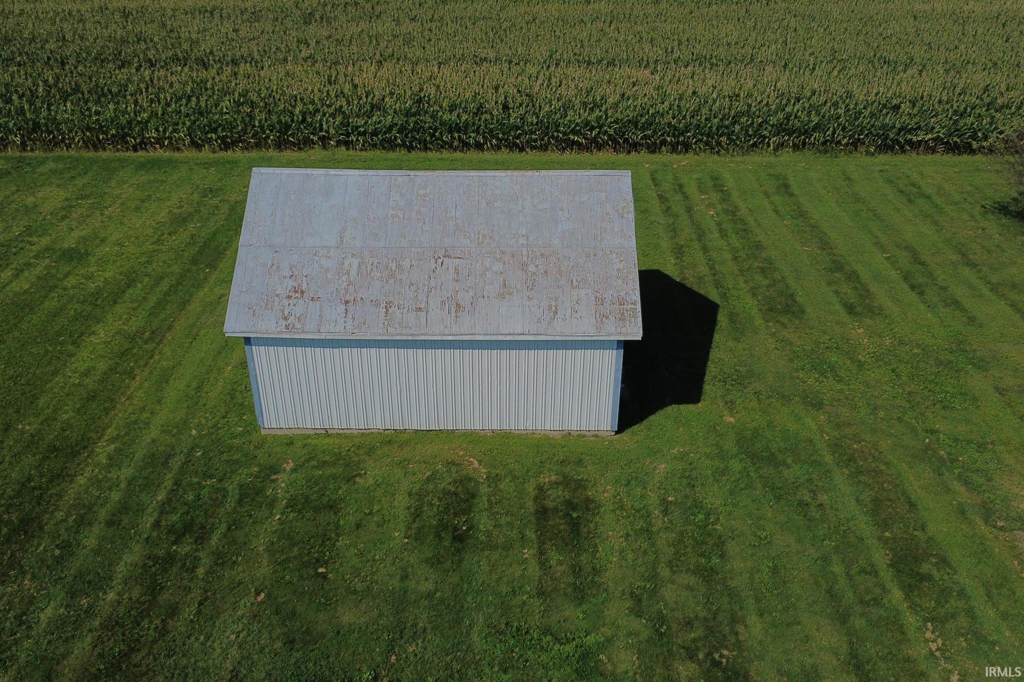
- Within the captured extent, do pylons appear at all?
No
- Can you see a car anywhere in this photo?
No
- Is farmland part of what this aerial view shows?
Yes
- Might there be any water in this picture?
No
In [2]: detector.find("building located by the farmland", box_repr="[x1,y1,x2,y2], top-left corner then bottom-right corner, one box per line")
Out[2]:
[224,165,643,437]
